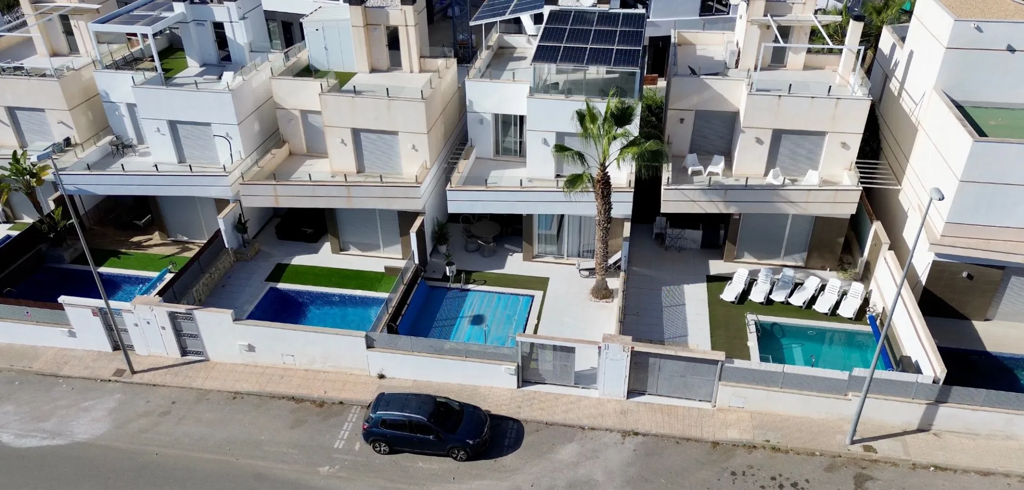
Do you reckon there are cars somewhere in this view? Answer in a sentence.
Yes, there's a car down there.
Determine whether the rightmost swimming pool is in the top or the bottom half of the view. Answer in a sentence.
You can find the rightmost swimming pool in the bottom half.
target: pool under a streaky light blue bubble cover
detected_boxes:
[421,277,544,356]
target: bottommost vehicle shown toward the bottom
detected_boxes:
[359,392,490,464]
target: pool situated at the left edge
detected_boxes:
[17,261,180,304]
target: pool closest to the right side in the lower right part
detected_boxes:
[936,341,1024,399]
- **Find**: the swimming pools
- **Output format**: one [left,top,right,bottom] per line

[238,280,386,327]
[17,261,180,304]
[421,277,544,356]
[746,311,888,388]
[936,341,1024,399]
